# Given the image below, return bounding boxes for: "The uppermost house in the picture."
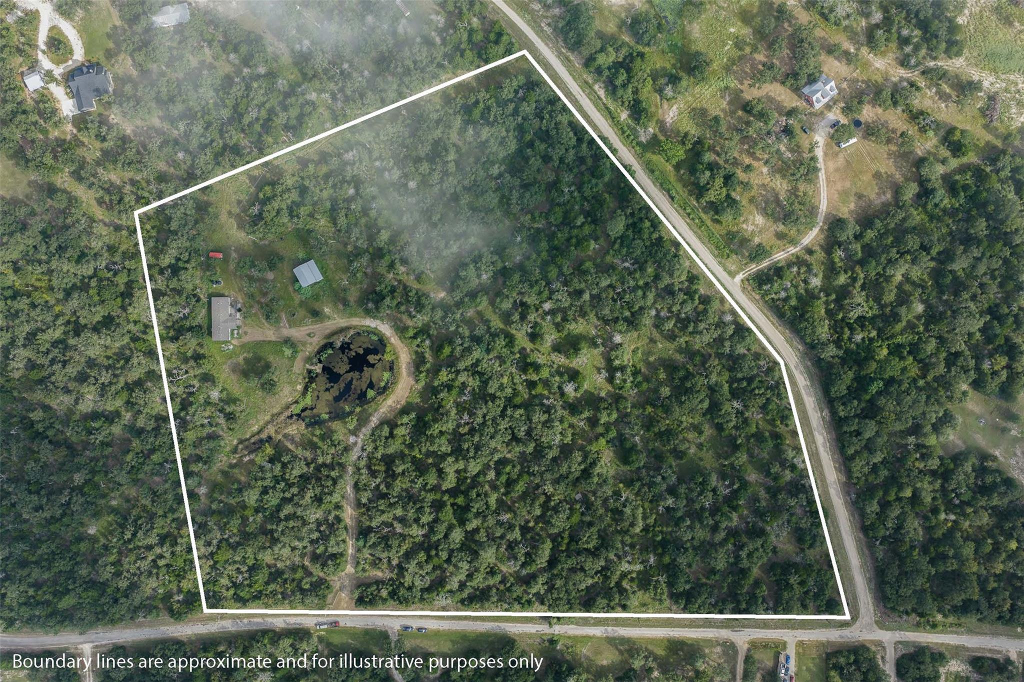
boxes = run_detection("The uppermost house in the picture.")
[150,3,191,29]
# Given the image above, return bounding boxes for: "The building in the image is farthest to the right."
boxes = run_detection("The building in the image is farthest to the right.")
[799,74,838,112]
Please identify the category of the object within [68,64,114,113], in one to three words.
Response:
house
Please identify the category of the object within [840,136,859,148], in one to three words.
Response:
vehicle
